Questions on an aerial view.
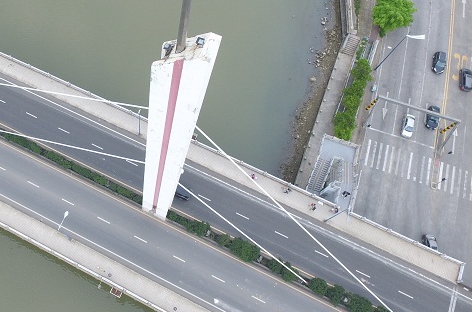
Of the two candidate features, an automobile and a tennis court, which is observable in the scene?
automobile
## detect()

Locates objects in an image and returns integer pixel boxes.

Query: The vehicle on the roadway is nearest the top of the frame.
[430,49,446,74]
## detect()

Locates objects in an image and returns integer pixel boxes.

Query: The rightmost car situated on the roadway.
[457,68,472,92]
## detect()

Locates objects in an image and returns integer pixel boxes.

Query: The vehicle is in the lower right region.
[423,231,440,249]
